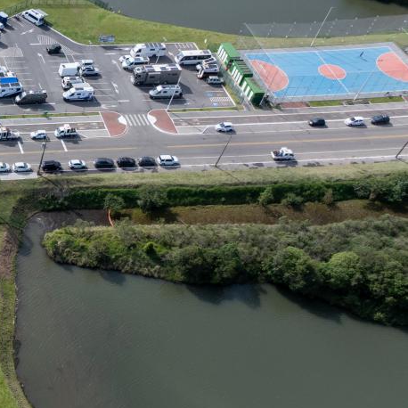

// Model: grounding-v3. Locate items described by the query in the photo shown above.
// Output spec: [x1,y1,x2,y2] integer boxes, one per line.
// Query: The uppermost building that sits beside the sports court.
[216,40,243,67]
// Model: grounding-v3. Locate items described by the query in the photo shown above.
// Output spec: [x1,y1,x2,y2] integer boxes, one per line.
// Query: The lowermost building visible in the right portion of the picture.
[240,76,269,106]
